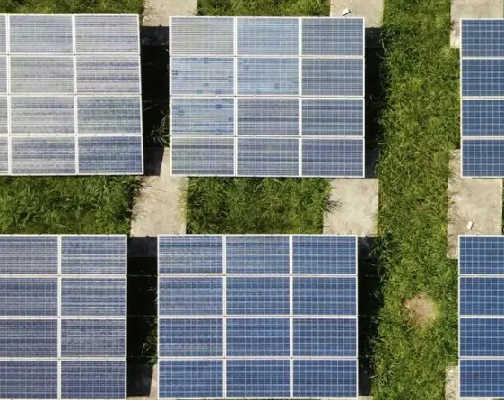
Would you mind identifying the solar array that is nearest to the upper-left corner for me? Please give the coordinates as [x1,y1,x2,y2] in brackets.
[0,14,156,174]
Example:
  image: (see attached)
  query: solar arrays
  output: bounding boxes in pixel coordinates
[158,236,364,399]
[459,236,504,400]
[0,14,156,174]
[461,20,504,178]
[0,236,142,400]
[170,17,371,176]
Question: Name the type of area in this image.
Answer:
solar farm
